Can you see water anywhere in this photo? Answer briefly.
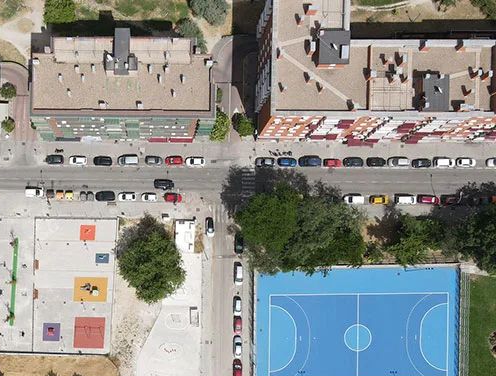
No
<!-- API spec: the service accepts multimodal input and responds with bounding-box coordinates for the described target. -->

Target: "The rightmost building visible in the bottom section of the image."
[176,220,195,254]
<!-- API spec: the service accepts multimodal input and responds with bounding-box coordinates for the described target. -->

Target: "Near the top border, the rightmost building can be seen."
[253,0,496,145]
